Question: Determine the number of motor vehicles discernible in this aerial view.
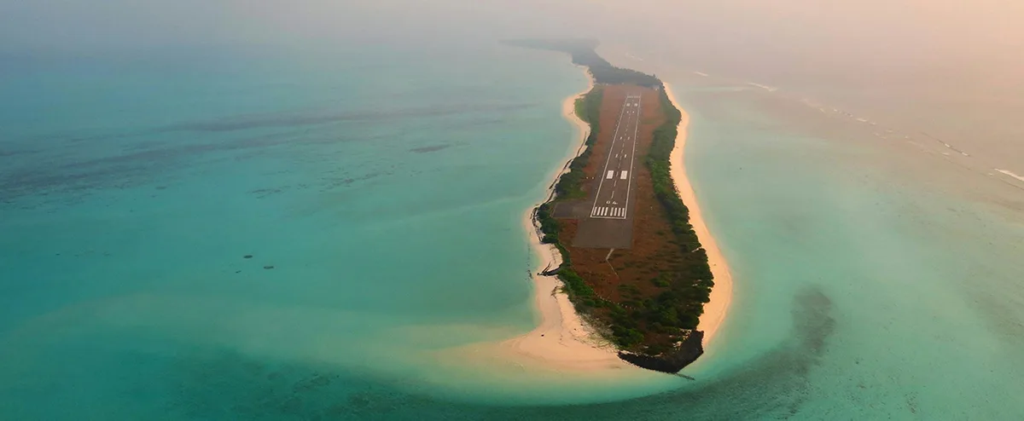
0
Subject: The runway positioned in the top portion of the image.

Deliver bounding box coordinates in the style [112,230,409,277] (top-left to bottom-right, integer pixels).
[582,93,645,220]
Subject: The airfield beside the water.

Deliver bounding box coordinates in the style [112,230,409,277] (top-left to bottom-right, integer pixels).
[550,86,679,257]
